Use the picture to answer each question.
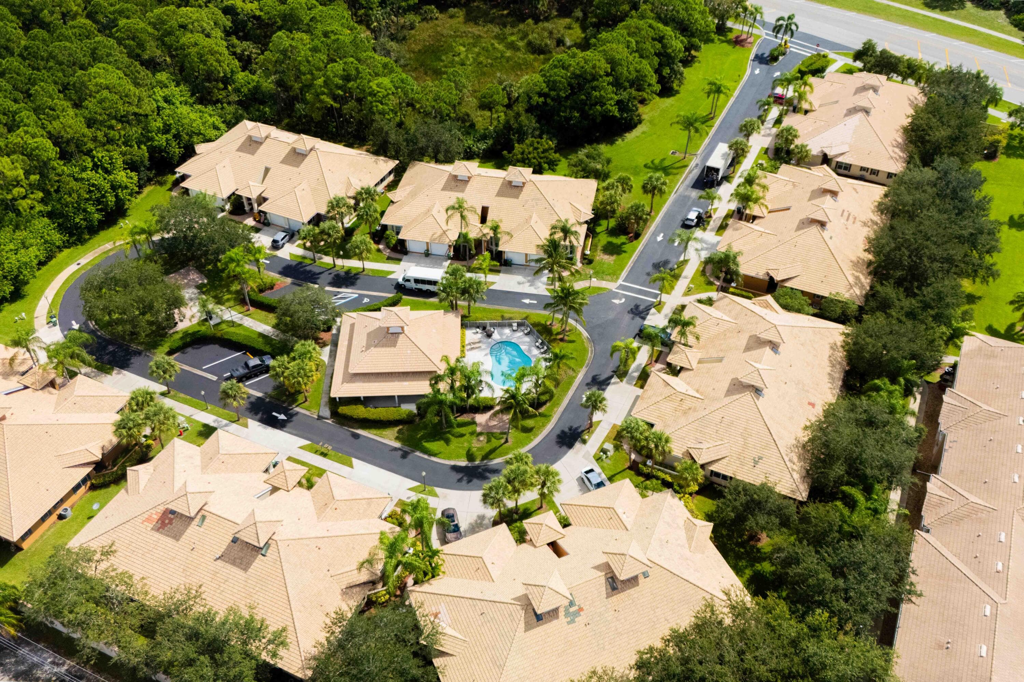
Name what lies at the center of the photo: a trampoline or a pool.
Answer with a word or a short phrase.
pool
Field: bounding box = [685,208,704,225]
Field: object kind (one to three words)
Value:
car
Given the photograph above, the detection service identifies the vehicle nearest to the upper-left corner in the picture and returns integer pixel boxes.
[269,229,295,248]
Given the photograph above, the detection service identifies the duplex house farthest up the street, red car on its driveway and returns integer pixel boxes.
[787,72,918,177]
